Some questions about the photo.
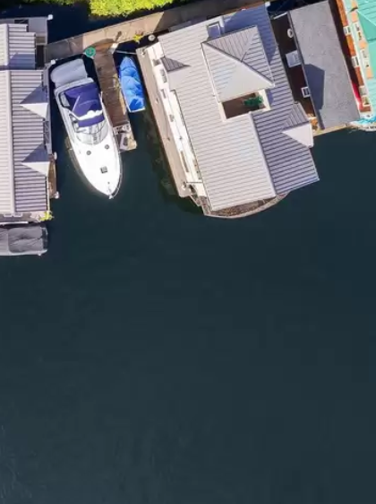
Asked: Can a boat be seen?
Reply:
Yes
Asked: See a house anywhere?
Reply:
Yes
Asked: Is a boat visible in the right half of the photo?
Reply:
No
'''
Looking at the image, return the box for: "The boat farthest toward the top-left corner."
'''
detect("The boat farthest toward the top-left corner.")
[51,56,89,84]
